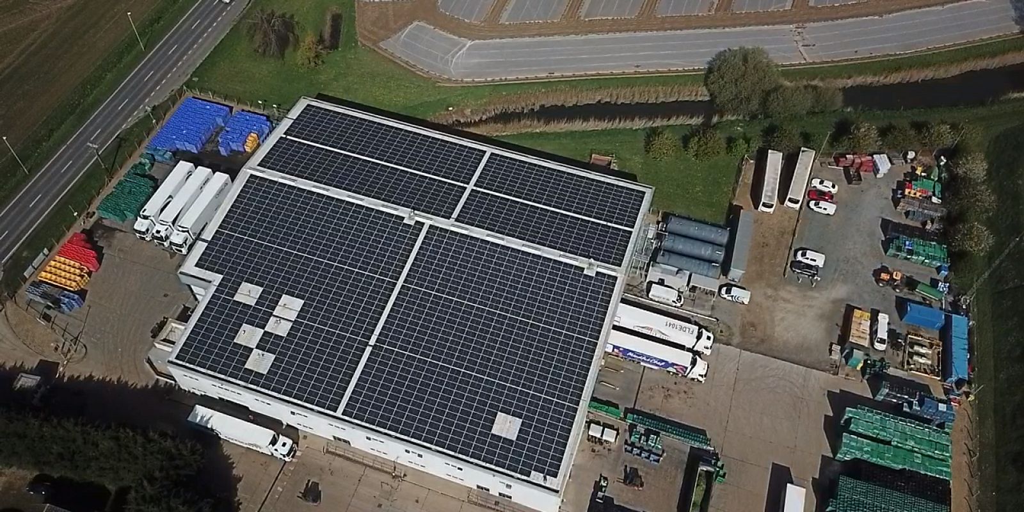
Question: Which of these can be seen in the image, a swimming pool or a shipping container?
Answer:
shipping container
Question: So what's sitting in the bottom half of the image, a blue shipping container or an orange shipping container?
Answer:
blue shipping container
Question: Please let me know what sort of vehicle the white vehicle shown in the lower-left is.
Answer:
truck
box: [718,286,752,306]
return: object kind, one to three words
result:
vehicle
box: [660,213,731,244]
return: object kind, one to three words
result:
storage tank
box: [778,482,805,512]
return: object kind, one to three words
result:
trailer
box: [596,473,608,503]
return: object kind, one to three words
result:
vehicle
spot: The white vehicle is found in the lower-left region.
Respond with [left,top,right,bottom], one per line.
[190,404,298,459]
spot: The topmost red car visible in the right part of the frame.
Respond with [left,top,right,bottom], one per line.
[809,191,835,204]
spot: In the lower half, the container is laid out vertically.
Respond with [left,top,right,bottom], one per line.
[943,313,969,395]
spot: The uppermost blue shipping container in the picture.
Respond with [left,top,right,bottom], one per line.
[899,300,945,330]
